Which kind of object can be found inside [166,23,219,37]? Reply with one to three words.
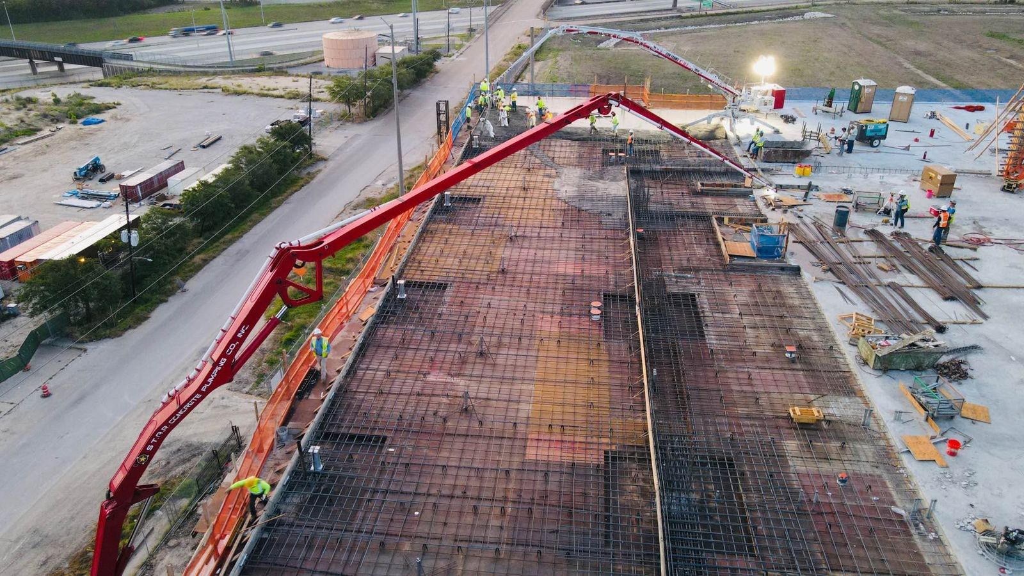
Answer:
vehicle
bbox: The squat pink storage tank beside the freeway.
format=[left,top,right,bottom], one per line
[323,28,376,68]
